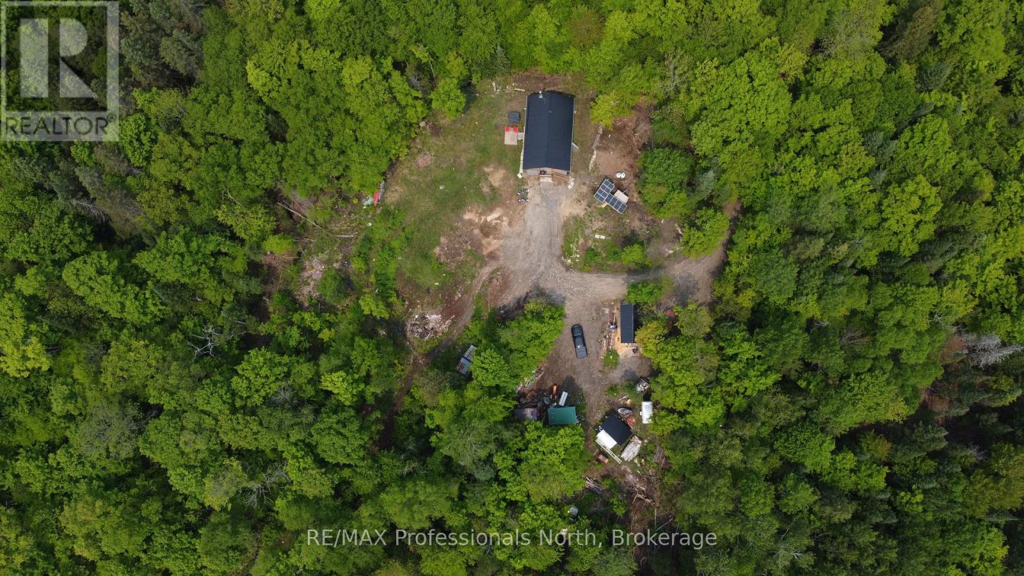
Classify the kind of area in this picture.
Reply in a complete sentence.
What you see here is a forest.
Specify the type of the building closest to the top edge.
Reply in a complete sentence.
In the photo, the building closest to the top edge shows up as a house.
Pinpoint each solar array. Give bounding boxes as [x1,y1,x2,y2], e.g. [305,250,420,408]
[605,194,627,213]
[595,180,614,202]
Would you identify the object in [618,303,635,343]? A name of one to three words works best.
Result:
shed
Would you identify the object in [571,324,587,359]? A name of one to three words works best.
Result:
vehicle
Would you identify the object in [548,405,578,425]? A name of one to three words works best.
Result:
shed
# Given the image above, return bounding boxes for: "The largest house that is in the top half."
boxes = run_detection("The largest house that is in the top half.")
[521,91,578,172]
